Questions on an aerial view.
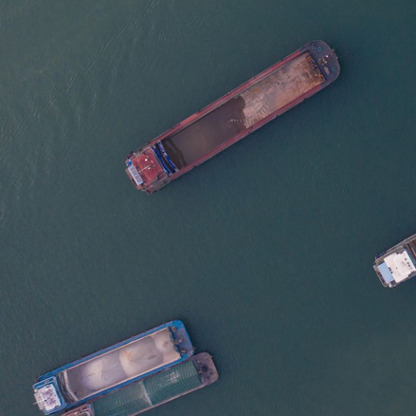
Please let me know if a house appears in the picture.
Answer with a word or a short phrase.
No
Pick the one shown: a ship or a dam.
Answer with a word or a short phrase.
ship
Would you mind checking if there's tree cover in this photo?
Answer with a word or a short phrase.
No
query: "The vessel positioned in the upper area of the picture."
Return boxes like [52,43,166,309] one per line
[126,41,340,194]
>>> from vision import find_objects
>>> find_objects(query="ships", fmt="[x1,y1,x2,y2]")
[58,351,220,416]
[126,41,340,194]
[373,236,416,288]
[31,319,198,416]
